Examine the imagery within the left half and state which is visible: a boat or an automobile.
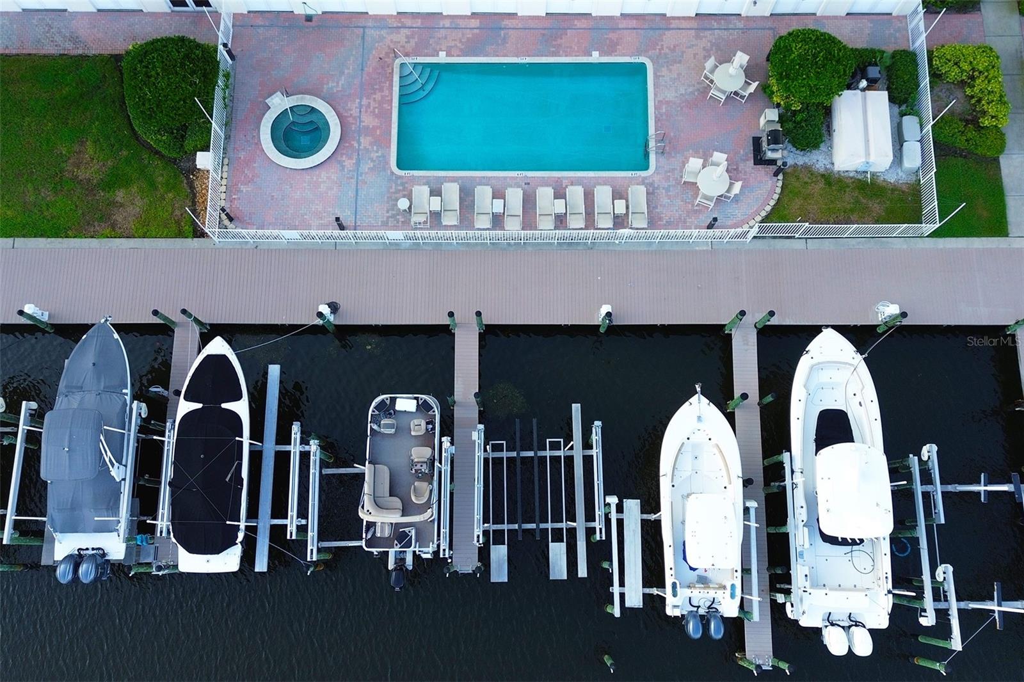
boat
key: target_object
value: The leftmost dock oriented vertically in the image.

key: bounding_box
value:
[154,325,201,565]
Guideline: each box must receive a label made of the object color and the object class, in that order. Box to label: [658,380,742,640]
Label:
white boat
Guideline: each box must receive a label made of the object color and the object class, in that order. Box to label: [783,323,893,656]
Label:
white boat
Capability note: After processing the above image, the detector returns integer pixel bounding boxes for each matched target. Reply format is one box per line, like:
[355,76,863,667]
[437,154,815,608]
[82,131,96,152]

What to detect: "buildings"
[0,0,918,15]
[831,88,897,170]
